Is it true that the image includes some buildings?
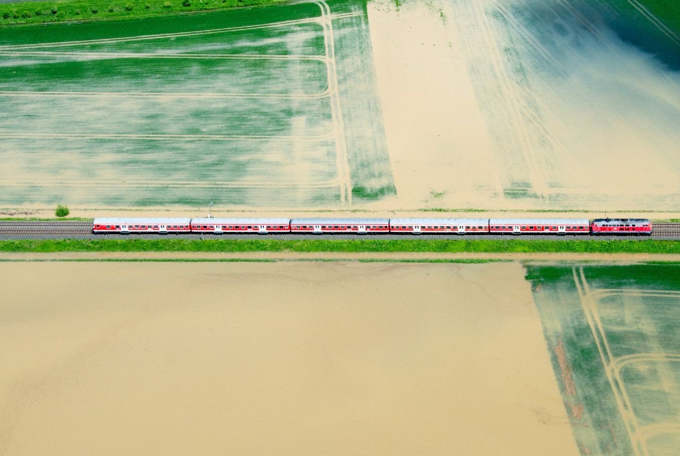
No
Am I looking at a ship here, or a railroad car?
railroad car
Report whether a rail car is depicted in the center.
Yes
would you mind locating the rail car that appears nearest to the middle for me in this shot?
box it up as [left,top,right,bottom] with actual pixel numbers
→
[289,218,389,235]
